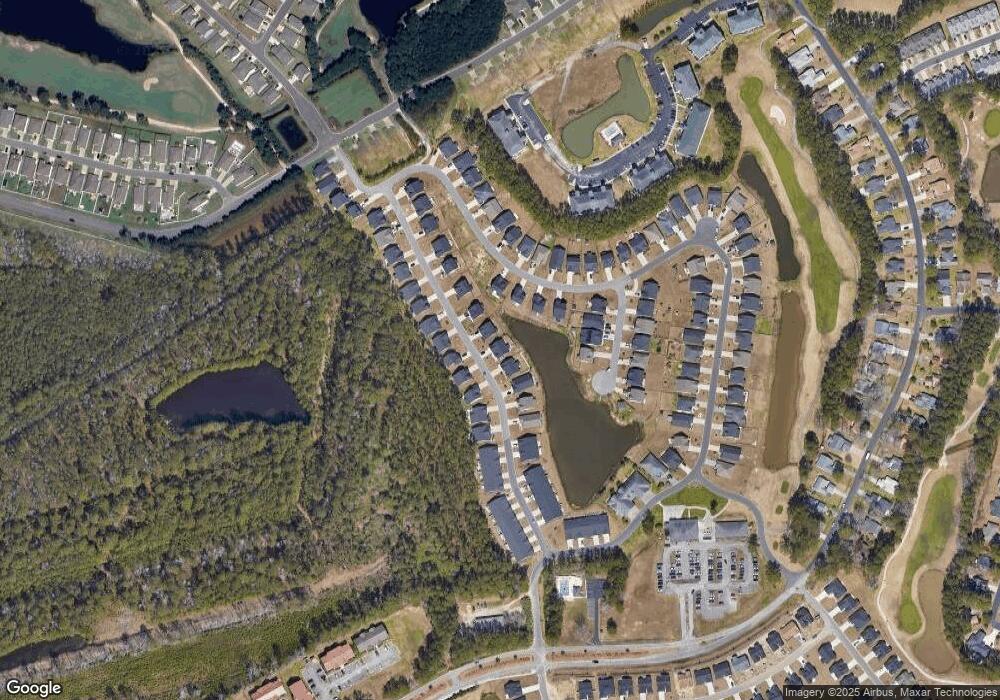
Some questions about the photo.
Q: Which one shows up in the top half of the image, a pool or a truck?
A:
pool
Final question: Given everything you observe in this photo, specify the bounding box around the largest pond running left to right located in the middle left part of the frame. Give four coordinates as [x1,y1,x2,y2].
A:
[157,361,312,431]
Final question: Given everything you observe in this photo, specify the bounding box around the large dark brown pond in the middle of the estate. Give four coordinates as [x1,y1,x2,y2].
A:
[502,315,644,509]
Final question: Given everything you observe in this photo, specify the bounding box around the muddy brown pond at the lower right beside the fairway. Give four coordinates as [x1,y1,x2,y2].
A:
[911,569,956,674]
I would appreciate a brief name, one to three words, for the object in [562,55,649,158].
pond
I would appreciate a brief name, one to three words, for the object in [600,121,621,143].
swimming pool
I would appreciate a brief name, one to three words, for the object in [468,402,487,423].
house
